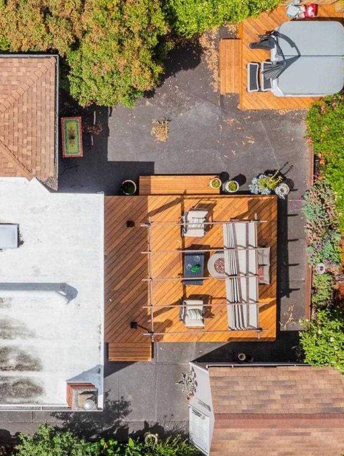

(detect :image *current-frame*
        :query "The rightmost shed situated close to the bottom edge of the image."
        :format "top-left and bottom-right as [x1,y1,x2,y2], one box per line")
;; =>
[187,362,344,456]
